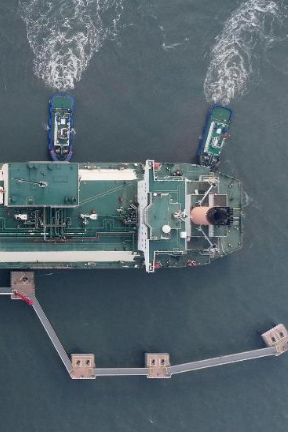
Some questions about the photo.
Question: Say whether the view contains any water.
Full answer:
Yes, water shows up in the scene.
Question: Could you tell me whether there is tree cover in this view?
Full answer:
No, the picture contains no tree cover.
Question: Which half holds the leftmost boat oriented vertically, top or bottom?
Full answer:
Seen from above, the leftmost boat oriented vertically lies in the top half of the view.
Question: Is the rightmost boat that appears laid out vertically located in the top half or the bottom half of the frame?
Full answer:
Seen from above, the rightmost boat that appears laid out vertically lies in the top half of the view.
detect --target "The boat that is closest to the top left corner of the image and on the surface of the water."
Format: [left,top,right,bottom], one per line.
[48,92,74,161]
